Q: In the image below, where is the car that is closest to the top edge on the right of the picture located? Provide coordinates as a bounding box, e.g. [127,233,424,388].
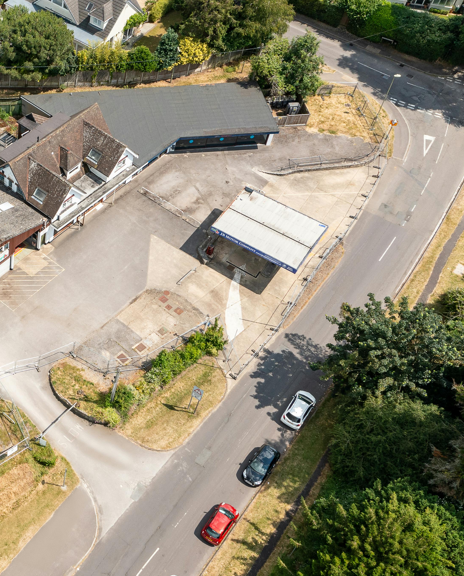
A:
[281,390,315,432]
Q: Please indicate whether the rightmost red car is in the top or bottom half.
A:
bottom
